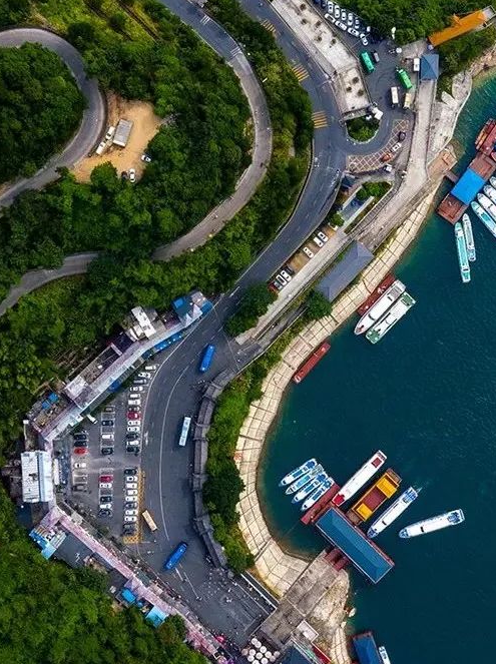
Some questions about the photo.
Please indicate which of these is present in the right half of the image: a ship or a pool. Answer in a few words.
ship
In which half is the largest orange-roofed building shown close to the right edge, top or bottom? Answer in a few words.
top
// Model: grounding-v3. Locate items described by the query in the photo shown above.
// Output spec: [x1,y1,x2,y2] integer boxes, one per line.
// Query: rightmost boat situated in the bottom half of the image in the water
[398,509,466,536]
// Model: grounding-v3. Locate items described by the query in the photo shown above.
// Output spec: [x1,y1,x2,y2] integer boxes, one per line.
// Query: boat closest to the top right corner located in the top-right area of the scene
[474,120,495,150]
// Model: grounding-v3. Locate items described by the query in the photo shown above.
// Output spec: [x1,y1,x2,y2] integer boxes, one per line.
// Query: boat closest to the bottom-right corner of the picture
[378,644,390,664]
